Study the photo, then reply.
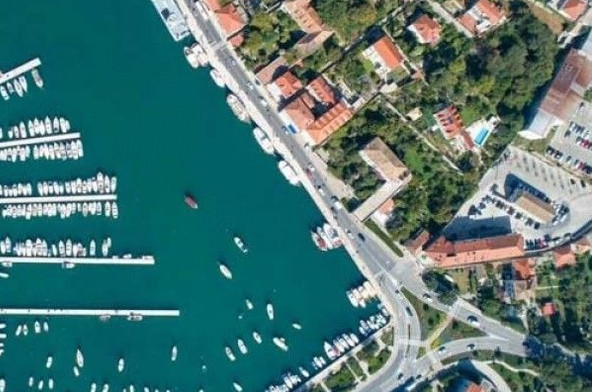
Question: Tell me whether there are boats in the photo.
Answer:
Yes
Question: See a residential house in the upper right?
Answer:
Yes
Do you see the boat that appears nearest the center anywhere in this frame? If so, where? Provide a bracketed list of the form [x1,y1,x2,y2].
[276,157,298,184]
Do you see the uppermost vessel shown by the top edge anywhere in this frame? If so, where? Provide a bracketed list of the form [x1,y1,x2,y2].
[152,0,191,43]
